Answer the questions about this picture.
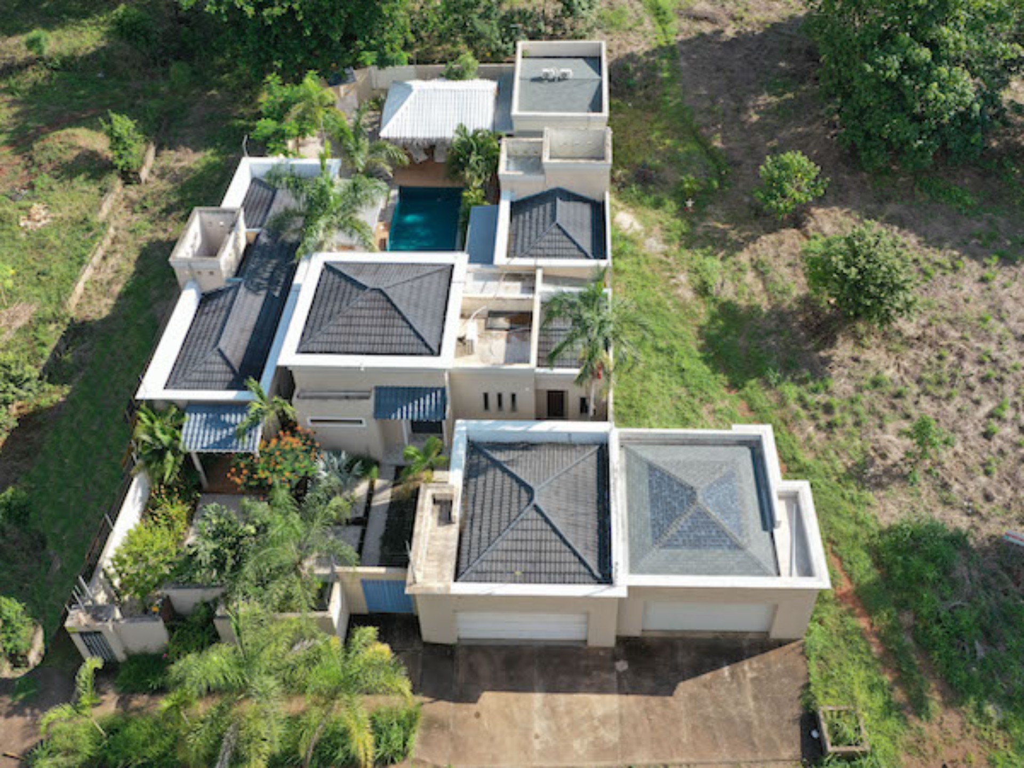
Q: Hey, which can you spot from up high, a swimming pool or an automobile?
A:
swimming pool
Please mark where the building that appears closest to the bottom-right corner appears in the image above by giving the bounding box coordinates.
[615,425,830,636]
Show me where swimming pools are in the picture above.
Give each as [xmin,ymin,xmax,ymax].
[380,184,466,253]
